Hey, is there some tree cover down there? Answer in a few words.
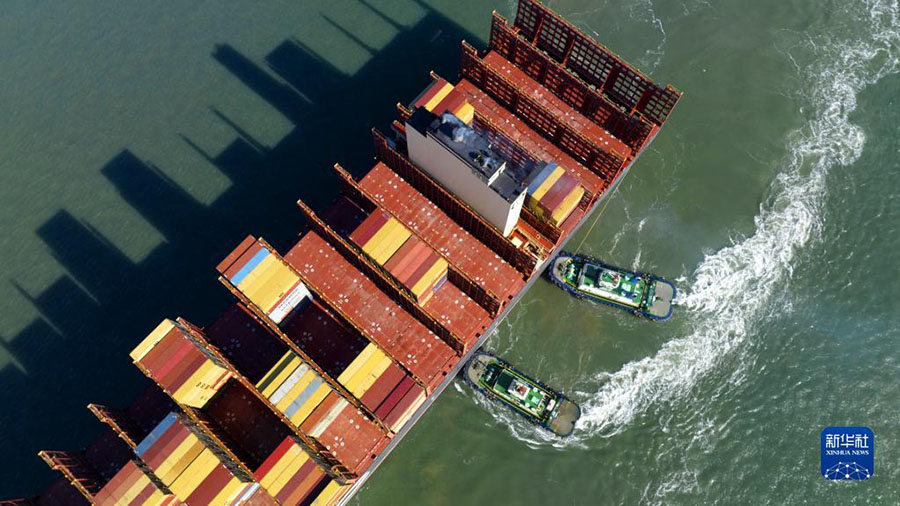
No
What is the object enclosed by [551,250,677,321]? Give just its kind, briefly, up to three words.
boat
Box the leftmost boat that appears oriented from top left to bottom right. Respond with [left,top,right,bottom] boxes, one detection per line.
[465,352,584,443]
